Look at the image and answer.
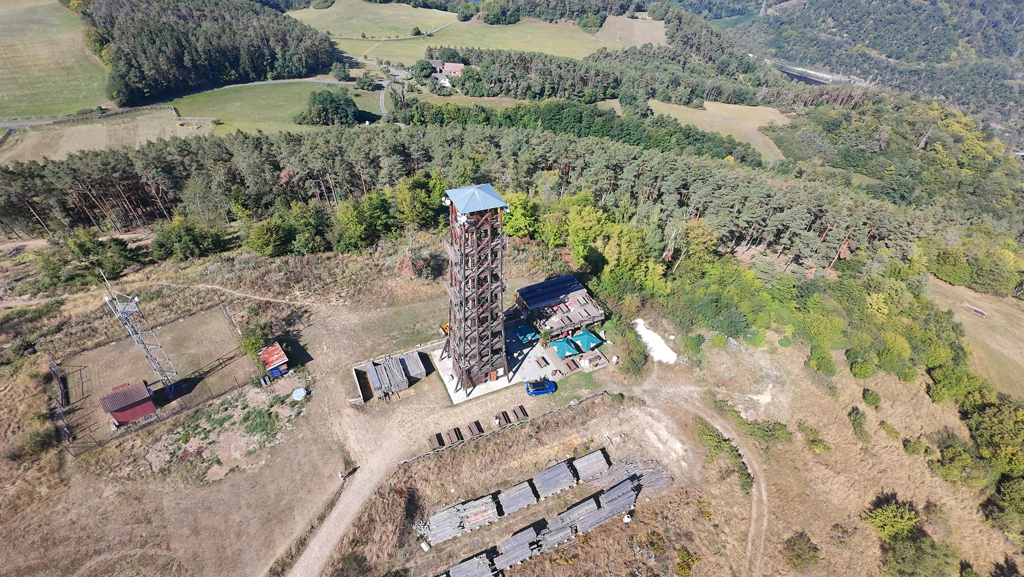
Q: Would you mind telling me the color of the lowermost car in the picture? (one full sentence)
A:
The lowermost car is blue.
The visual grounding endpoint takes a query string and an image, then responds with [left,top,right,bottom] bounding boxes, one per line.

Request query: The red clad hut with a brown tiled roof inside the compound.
[100,381,156,434]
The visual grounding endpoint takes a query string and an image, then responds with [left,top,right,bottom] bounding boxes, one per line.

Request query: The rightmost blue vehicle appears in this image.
[524,375,555,397]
